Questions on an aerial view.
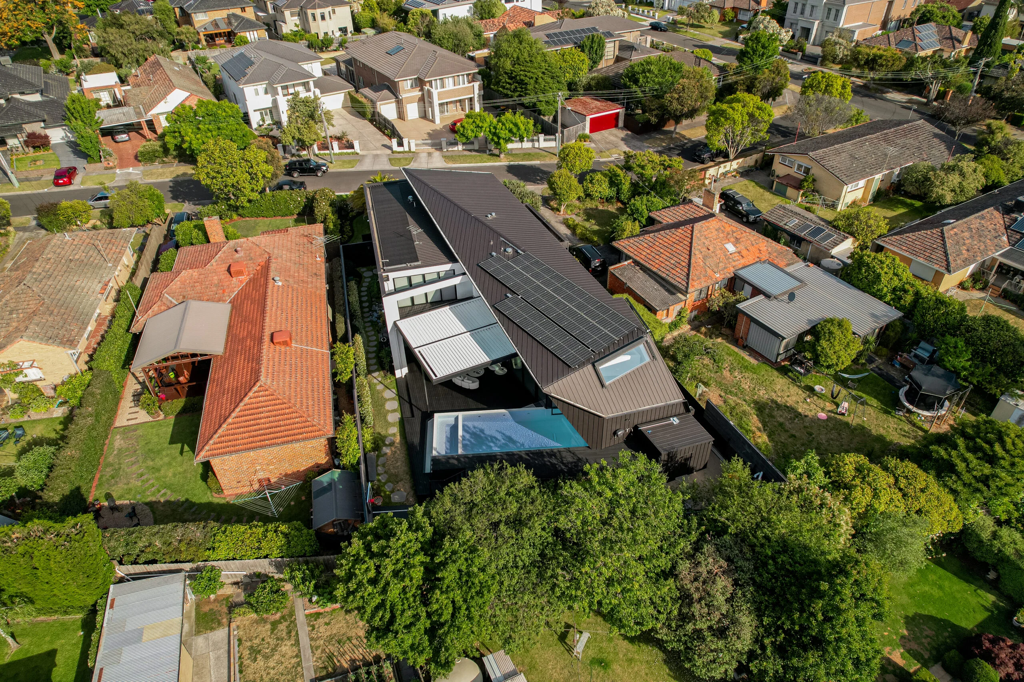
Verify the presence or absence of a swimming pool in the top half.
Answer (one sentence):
No, in the top half there is no swimming pool.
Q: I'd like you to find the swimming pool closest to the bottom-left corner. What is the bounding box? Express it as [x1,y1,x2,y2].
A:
[425,401,591,493]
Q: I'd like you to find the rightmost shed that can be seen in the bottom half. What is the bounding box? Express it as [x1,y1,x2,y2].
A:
[982,398,1024,452]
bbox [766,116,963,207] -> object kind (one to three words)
house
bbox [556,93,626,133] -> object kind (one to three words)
building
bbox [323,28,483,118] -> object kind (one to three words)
house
